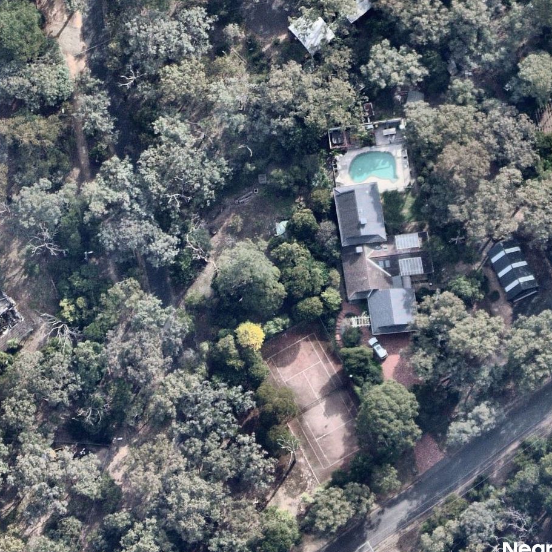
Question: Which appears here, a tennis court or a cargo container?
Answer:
tennis court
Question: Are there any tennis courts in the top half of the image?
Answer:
No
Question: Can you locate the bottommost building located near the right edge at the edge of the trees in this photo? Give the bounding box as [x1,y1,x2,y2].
[486,239,538,302]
